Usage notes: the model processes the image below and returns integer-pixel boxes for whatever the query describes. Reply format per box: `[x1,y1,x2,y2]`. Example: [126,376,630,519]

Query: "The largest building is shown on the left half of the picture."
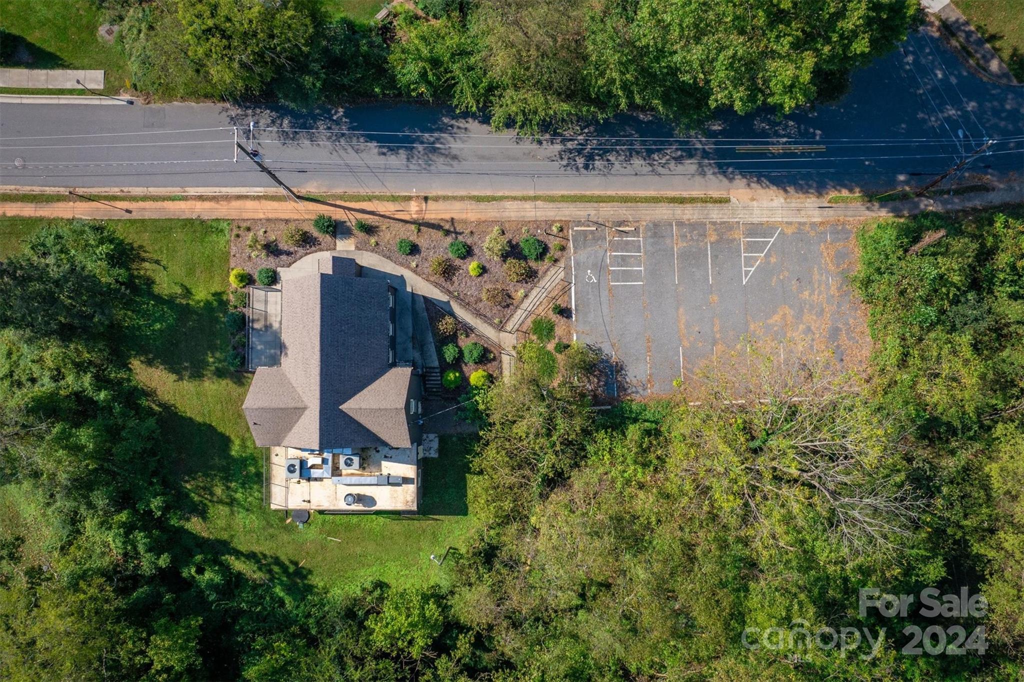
[240,254,423,510]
